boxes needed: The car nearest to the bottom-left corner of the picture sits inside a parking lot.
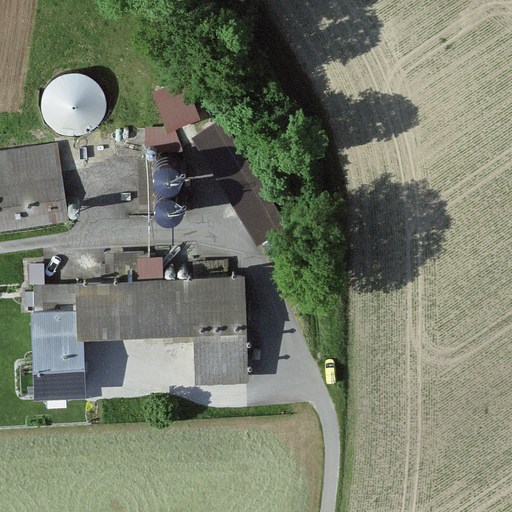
[45,254,62,276]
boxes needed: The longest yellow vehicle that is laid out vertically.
[324,358,336,384]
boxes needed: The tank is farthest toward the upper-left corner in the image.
[39,68,108,138]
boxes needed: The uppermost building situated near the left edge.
[0,142,68,232]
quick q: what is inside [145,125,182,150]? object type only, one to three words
shed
